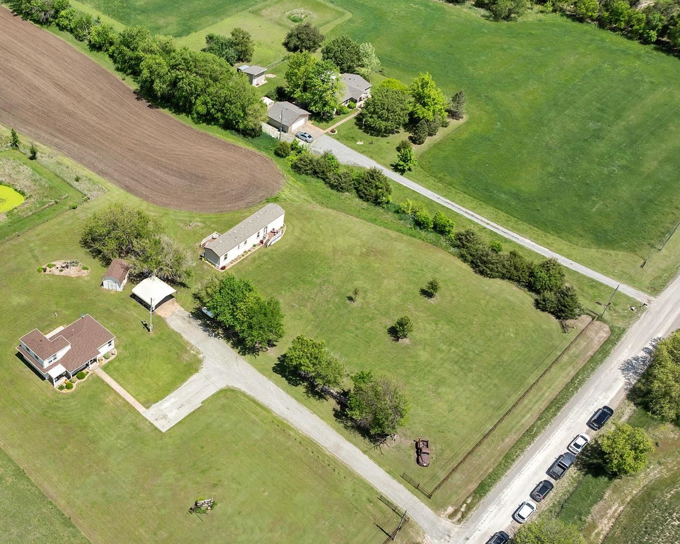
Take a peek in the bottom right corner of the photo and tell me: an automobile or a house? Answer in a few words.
automobile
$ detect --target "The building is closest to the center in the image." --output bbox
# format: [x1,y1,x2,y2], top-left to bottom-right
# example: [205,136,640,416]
[195,203,288,266]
